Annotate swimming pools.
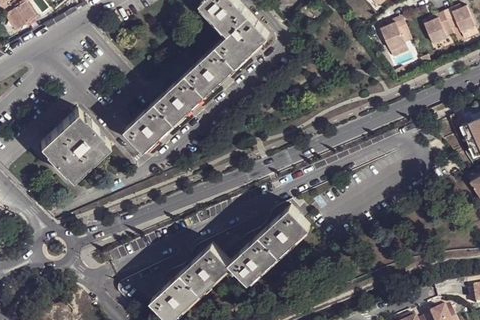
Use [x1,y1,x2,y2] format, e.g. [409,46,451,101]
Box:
[32,0,49,12]
[394,52,414,64]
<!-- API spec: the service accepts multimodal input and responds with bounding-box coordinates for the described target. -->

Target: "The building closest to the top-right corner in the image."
[452,4,479,40]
